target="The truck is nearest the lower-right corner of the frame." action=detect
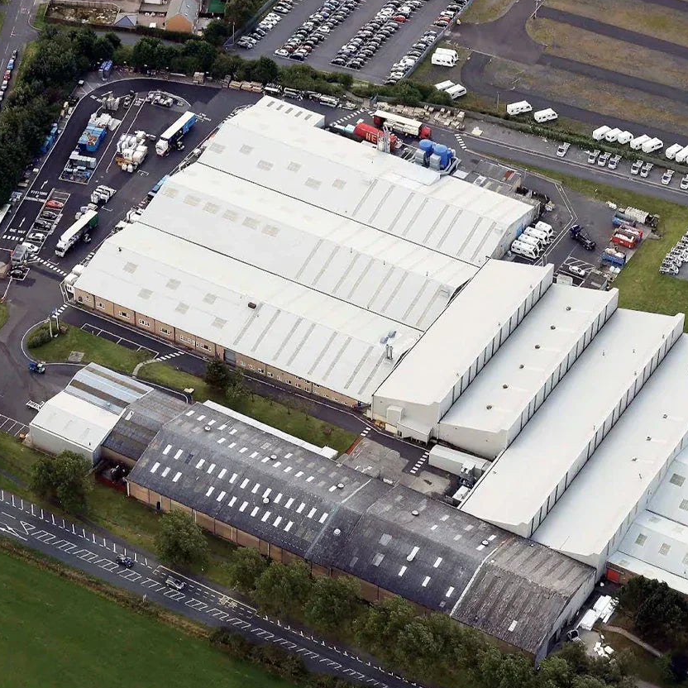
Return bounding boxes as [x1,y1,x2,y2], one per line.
[580,591,610,629]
